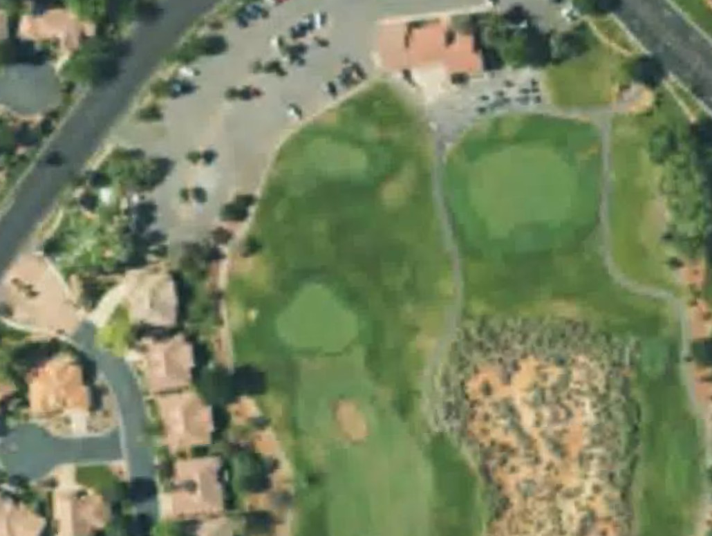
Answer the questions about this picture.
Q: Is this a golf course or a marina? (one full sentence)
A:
The area seen from above is a golf course.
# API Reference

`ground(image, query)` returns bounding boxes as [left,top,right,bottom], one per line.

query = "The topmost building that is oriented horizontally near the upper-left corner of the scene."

[15,10,97,50]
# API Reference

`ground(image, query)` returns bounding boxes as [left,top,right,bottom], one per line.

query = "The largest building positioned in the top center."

[377,19,485,80]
